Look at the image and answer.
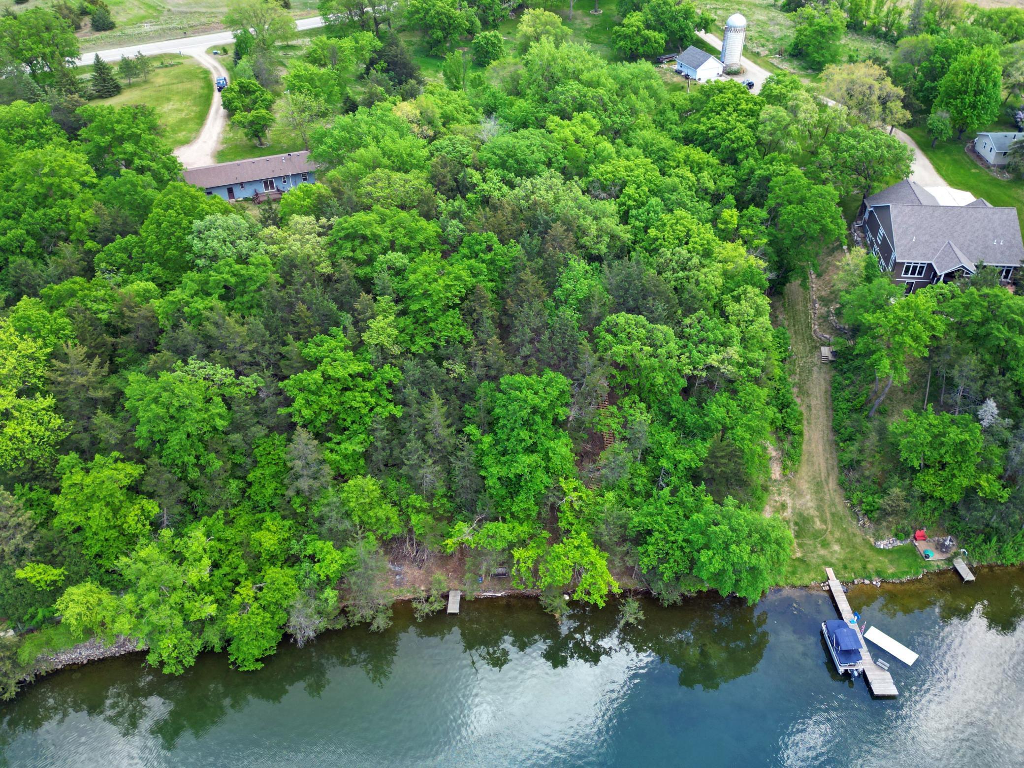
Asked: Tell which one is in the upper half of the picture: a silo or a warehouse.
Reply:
silo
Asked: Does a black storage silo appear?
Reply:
No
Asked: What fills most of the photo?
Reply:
trees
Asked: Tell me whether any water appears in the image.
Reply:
Yes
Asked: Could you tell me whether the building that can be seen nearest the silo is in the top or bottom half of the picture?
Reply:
top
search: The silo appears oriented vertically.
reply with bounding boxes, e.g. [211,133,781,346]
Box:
[722,16,750,72]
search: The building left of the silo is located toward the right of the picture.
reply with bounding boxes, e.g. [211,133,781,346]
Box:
[666,48,722,82]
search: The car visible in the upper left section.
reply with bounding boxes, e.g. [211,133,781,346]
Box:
[213,76,228,89]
